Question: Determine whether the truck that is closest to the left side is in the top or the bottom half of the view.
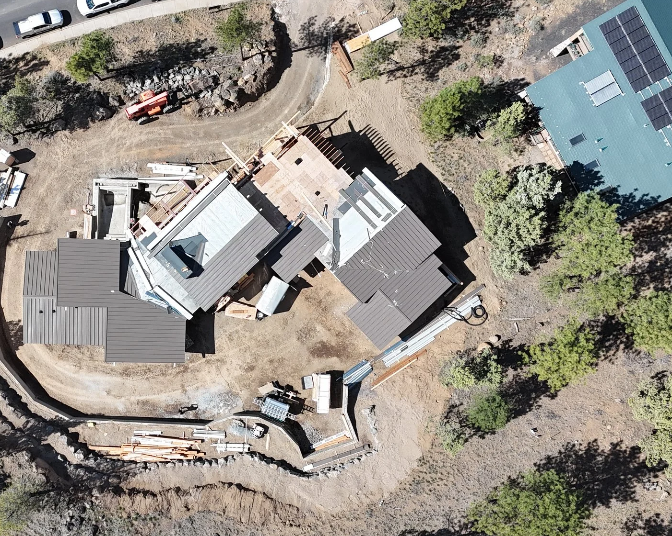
top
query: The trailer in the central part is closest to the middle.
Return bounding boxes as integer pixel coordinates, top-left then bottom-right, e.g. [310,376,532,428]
[255,275,297,319]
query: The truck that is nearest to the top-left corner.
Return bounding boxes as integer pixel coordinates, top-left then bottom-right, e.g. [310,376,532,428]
[11,8,64,41]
